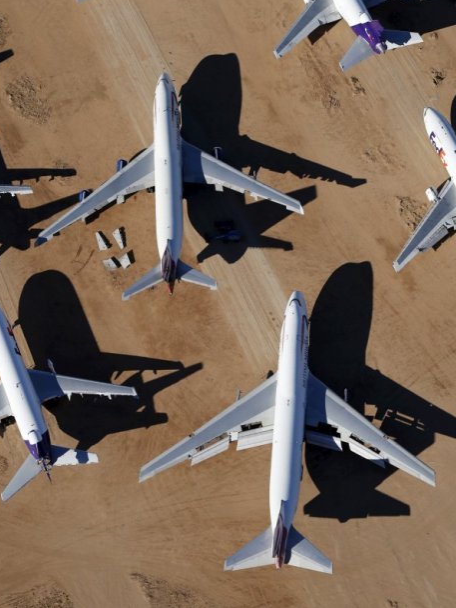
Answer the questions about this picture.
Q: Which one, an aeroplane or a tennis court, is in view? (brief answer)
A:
aeroplane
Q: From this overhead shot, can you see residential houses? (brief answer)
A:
No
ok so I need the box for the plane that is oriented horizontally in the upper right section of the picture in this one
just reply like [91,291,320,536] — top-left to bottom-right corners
[272,0,425,69]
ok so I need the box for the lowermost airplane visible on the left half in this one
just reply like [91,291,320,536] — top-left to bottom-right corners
[0,310,139,502]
